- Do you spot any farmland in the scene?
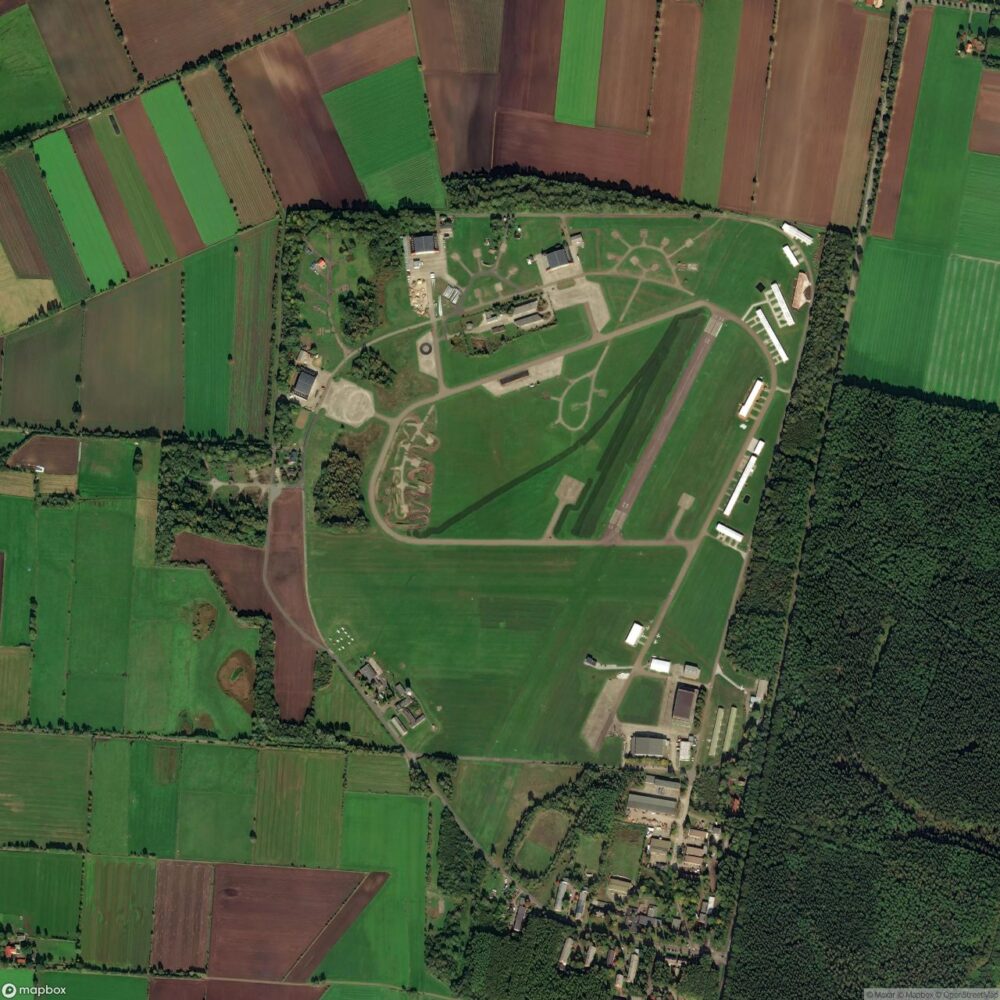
Yes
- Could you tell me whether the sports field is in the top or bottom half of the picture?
bottom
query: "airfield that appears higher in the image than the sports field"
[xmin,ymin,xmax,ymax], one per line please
[276,212,822,775]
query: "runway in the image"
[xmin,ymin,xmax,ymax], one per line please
[602,307,728,548]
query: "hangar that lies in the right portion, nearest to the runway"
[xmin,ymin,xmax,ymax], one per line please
[757,310,788,361]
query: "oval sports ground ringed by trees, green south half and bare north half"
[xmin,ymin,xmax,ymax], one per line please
[515,809,566,874]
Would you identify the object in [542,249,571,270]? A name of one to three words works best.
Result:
hangar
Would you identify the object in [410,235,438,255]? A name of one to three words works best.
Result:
hangar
